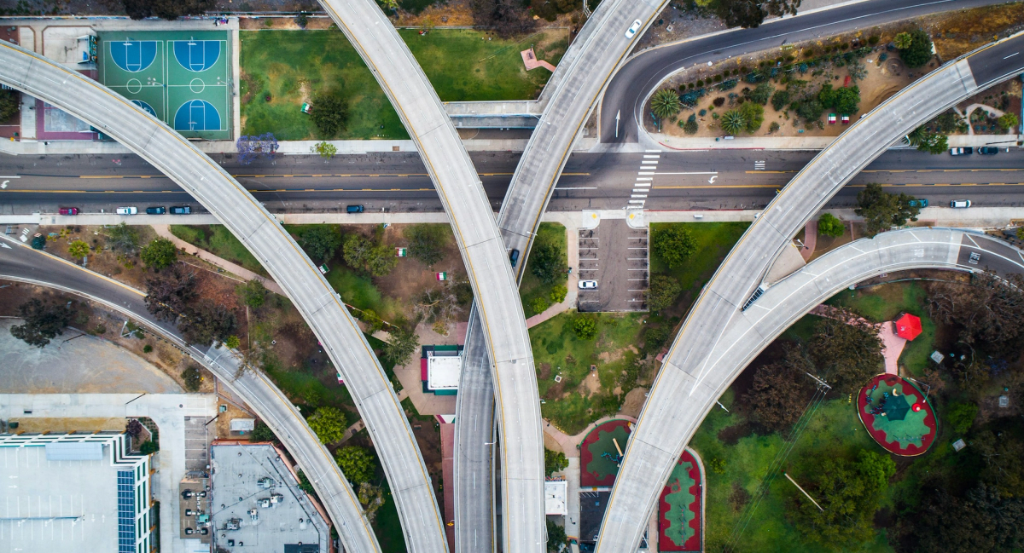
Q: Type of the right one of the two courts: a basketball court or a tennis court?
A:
basketball court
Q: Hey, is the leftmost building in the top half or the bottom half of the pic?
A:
bottom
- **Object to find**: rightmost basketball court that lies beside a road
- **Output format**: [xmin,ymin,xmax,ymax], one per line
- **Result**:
[97,30,229,139]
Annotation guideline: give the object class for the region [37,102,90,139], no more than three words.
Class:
sports court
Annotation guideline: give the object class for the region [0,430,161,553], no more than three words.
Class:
building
